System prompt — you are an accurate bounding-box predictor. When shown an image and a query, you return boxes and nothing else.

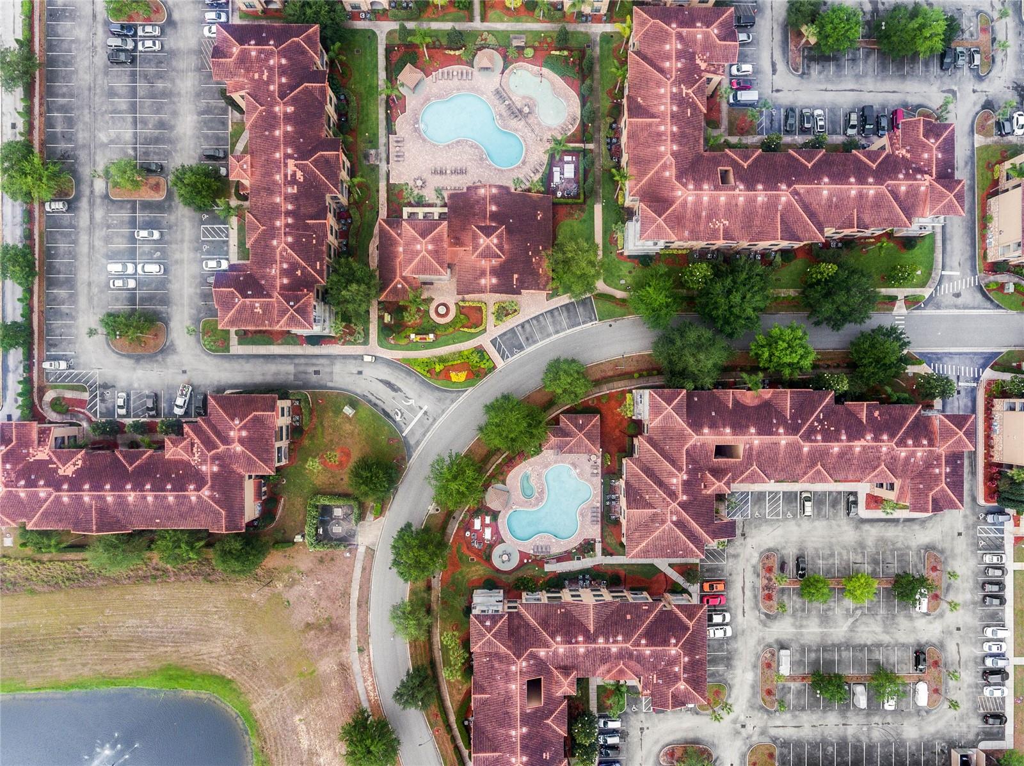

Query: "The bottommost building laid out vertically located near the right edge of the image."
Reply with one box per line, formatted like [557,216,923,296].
[995,401,1024,468]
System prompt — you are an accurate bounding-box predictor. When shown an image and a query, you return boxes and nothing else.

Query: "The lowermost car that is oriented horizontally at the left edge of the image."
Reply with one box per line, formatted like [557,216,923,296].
[44,359,70,371]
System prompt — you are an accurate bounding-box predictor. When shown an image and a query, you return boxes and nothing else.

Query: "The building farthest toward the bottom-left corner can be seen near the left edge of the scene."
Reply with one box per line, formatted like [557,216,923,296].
[0,393,296,535]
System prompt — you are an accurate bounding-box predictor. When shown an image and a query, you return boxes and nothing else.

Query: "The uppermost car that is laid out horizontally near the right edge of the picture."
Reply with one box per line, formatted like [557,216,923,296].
[984,512,1012,525]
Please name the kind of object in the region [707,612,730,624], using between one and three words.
vehicle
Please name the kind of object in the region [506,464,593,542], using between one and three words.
swimming pool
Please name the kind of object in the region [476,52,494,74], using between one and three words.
gazebo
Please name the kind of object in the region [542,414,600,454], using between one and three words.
building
